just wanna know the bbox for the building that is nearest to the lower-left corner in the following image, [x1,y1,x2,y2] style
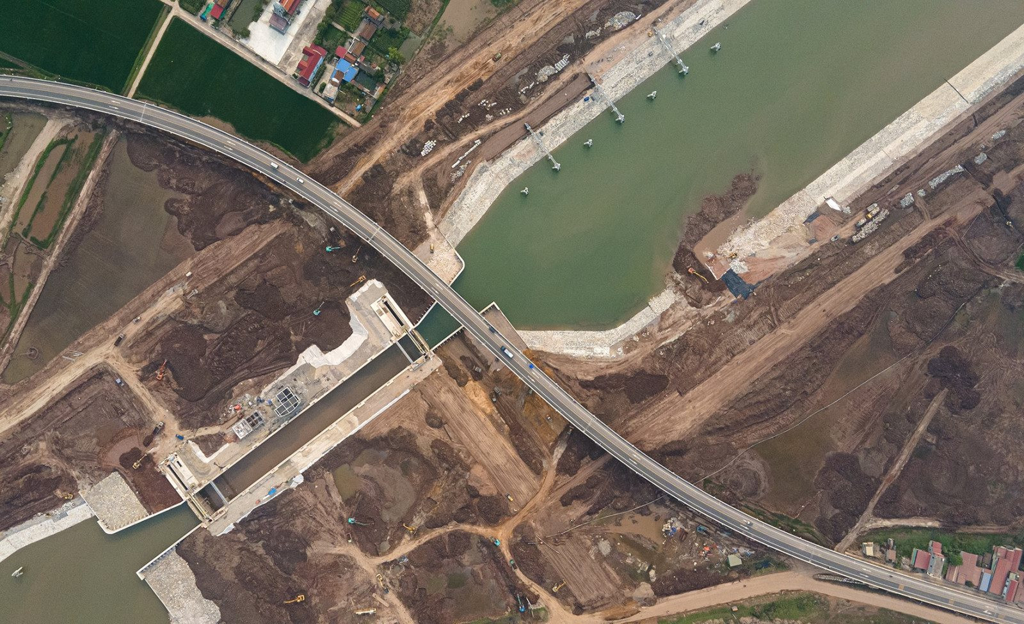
[232,410,266,439]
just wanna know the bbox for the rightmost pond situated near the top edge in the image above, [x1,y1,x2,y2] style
[433,0,503,47]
